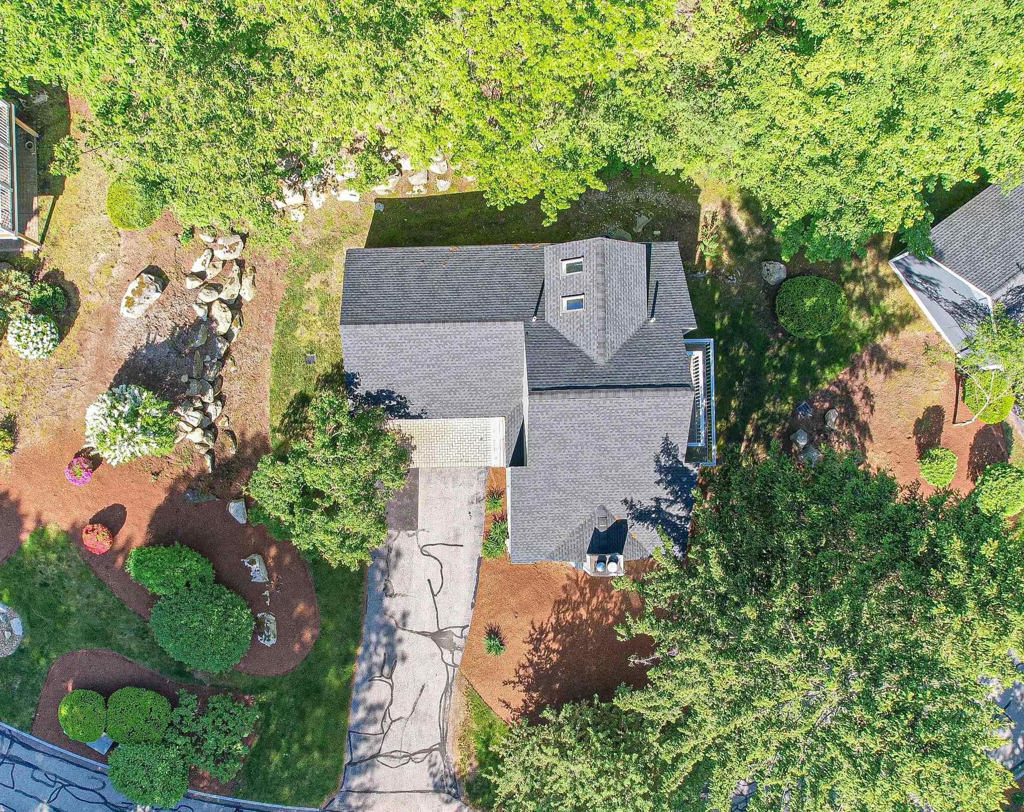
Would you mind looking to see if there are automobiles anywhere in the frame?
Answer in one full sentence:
No, there isn't any automobile down there.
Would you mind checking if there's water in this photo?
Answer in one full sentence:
No, water can't be seen anywhere here.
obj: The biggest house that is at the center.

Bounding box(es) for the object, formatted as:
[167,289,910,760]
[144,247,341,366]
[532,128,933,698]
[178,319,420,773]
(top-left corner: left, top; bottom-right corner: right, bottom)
[340,237,702,578]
